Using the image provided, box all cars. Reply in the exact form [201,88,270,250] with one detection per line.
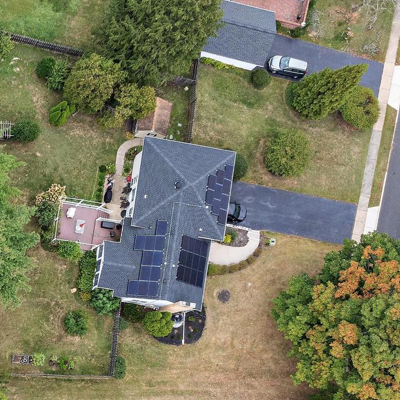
[228,203,252,225]
[265,53,313,80]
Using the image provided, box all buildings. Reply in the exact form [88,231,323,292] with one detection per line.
[91,136,237,345]
[206,0,278,69]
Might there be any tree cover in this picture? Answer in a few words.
Yes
